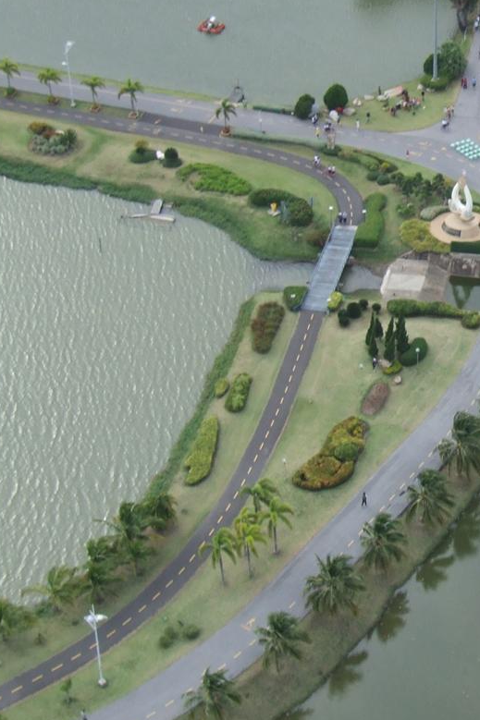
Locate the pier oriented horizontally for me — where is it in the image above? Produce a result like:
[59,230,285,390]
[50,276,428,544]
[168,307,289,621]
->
[119,198,174,217]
